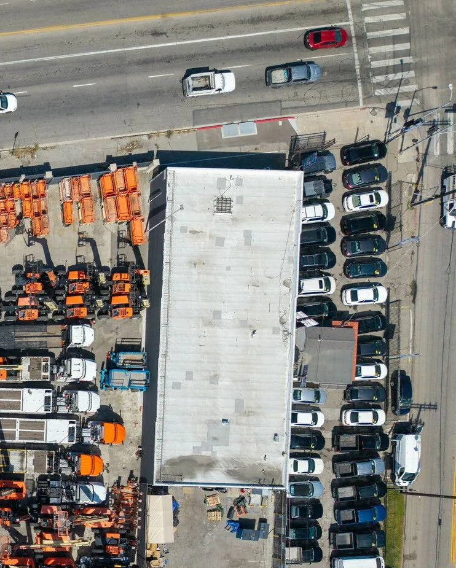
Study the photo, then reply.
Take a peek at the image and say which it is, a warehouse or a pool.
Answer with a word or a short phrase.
warehouse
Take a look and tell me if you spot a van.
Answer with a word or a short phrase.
Yes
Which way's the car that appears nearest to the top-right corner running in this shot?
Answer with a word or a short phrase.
from left to right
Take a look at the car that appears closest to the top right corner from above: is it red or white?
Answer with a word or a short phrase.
red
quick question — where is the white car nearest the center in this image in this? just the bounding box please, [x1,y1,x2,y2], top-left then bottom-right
[298,274,337,297]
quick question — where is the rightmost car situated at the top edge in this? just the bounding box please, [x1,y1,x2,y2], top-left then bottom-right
[300,25,349,52]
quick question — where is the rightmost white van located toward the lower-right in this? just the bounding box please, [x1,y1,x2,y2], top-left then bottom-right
[390,425,427,487]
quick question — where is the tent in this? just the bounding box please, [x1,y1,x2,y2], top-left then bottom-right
[140,494,174,543]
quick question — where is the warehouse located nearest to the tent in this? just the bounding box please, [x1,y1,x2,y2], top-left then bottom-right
[137,168,305,489]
